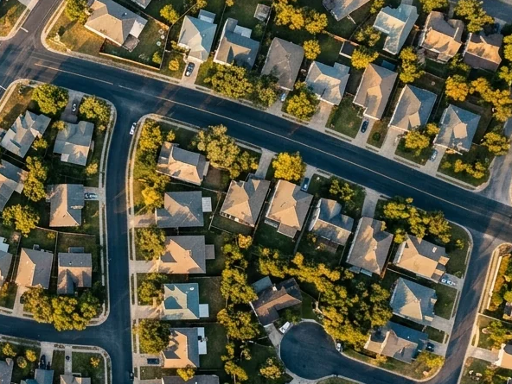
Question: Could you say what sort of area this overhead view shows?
residential area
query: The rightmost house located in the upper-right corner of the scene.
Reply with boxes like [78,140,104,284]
[460,32,504,74]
